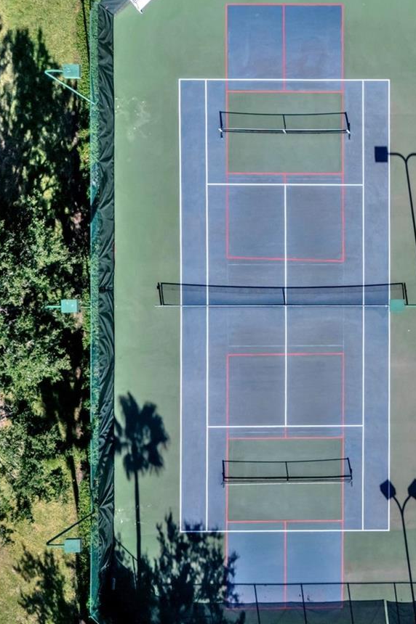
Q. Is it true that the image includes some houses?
No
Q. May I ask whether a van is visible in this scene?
No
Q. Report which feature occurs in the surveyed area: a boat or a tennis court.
tennis court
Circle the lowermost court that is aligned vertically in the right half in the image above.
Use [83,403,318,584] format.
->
[226,354,343,609]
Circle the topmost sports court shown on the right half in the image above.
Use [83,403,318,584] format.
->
[226,3,343,262]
